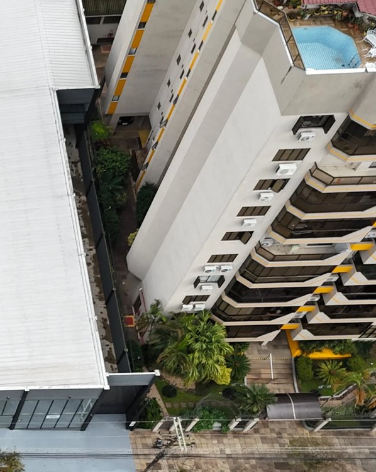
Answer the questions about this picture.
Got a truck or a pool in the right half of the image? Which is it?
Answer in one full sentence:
You can see a pool in the right half of the image.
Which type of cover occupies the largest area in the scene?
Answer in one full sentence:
For the most part, this view shows buildings.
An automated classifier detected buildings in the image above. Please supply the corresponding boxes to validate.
[127,0,376,341]
[0,0,110,434]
